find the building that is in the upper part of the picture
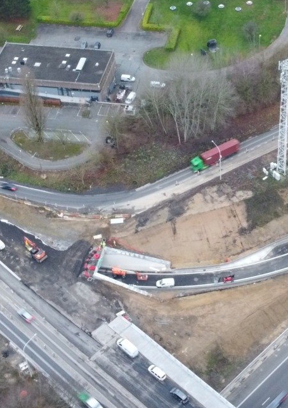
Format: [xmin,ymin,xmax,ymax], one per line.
[0,44,114,100]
